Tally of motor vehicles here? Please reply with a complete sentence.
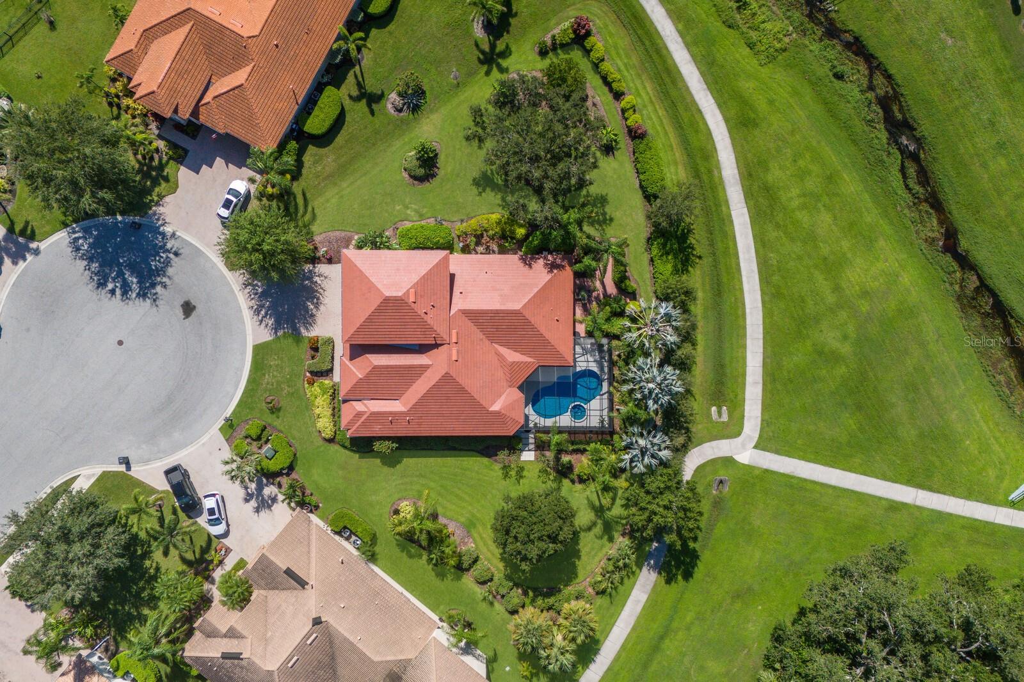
I count 3 motor vehicles.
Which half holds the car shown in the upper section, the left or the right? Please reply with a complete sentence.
The car shown in the upper section is on the left side of the image.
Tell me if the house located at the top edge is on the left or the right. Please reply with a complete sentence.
It is on the left.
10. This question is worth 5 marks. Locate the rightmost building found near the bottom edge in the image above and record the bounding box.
[183,508,491,682]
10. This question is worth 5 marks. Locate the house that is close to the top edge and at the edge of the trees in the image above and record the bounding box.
[103,0,360,153]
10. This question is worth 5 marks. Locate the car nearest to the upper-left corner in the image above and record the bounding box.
[218,179,251,224]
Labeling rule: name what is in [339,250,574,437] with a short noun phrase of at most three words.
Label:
house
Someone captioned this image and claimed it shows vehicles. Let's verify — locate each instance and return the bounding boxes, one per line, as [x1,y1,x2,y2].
[204,490,231,536]
[218,179,251,224]
[164,460,205,516]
